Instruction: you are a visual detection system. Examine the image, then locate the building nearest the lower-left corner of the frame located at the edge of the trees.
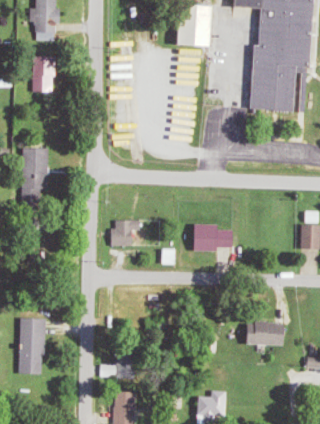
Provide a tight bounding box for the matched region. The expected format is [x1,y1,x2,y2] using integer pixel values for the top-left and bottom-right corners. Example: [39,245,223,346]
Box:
[18,318,44,374]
